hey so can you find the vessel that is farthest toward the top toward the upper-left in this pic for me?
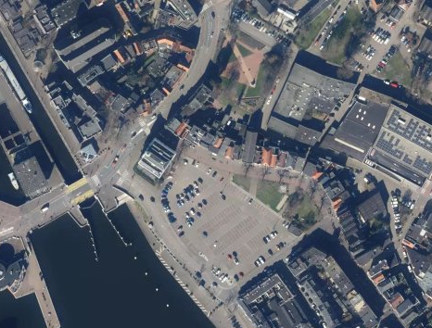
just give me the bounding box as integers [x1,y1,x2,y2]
[0,56,31,112]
